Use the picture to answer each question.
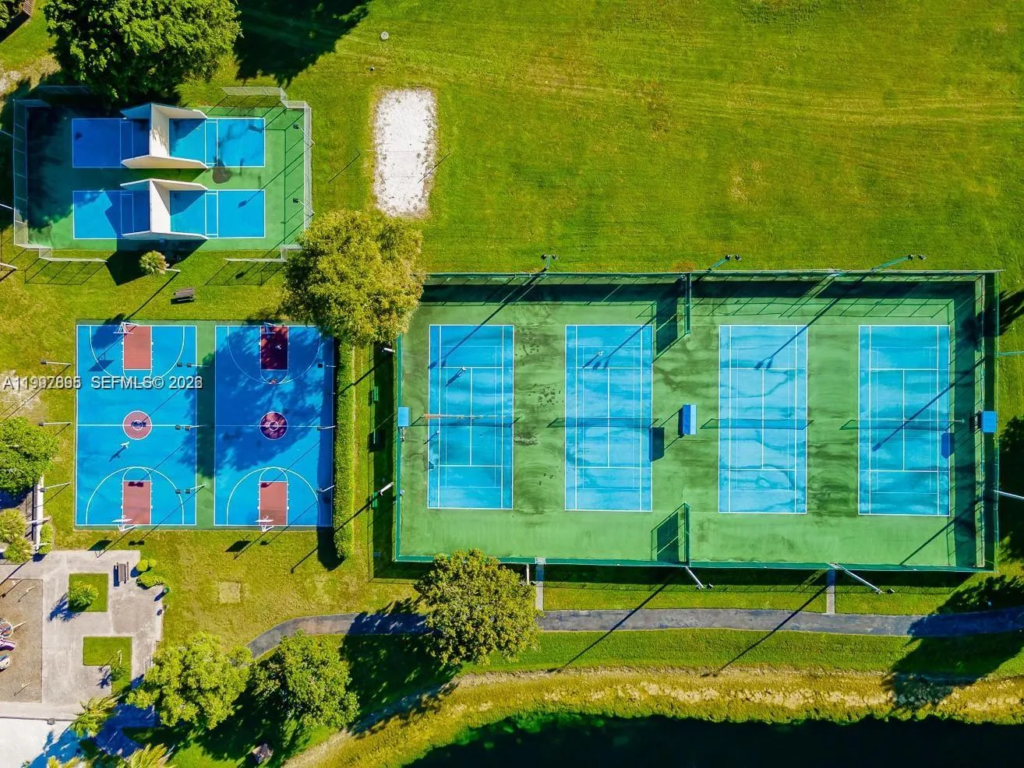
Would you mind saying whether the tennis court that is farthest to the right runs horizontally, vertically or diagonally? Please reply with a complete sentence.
What the image shows is the tennis court that is farthest to the right lying vertically.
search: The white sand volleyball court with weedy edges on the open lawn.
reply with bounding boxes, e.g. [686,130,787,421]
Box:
[372,86,438,217]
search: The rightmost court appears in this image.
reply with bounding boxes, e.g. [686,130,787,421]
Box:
[859,325,950,516]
